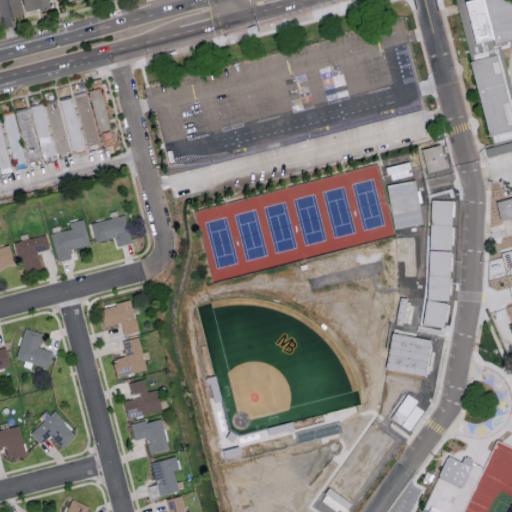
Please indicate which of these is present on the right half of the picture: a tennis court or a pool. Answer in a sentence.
Visible on the right half of the picture is a tennis court.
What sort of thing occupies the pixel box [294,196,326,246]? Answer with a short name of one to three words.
tennis court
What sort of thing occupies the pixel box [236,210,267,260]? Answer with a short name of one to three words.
tennis court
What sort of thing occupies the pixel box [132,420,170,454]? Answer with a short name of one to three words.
house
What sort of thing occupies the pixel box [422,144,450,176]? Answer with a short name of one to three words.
building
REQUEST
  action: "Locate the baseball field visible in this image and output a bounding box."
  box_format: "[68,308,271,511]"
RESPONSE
[198,299,360,434]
